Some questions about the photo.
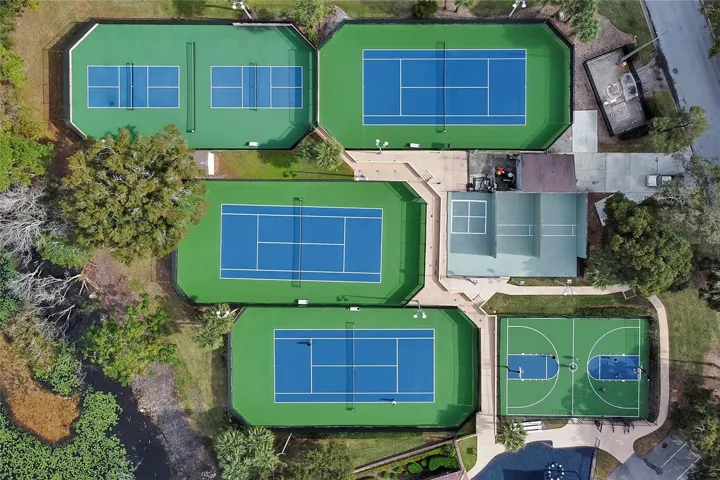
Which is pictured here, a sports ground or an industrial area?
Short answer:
sports ground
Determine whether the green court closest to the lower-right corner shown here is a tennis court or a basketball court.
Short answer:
basketball court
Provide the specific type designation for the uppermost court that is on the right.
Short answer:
tennis court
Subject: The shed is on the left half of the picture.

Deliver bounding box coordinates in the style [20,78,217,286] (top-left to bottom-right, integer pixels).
[191,150,214,174]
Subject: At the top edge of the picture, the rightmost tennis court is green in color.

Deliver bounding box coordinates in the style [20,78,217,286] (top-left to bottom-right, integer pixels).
[319,22,571,150]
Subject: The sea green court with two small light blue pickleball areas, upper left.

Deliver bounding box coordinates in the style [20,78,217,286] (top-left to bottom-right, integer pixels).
[71,24,317,149]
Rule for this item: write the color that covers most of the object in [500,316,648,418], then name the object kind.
green basketball court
